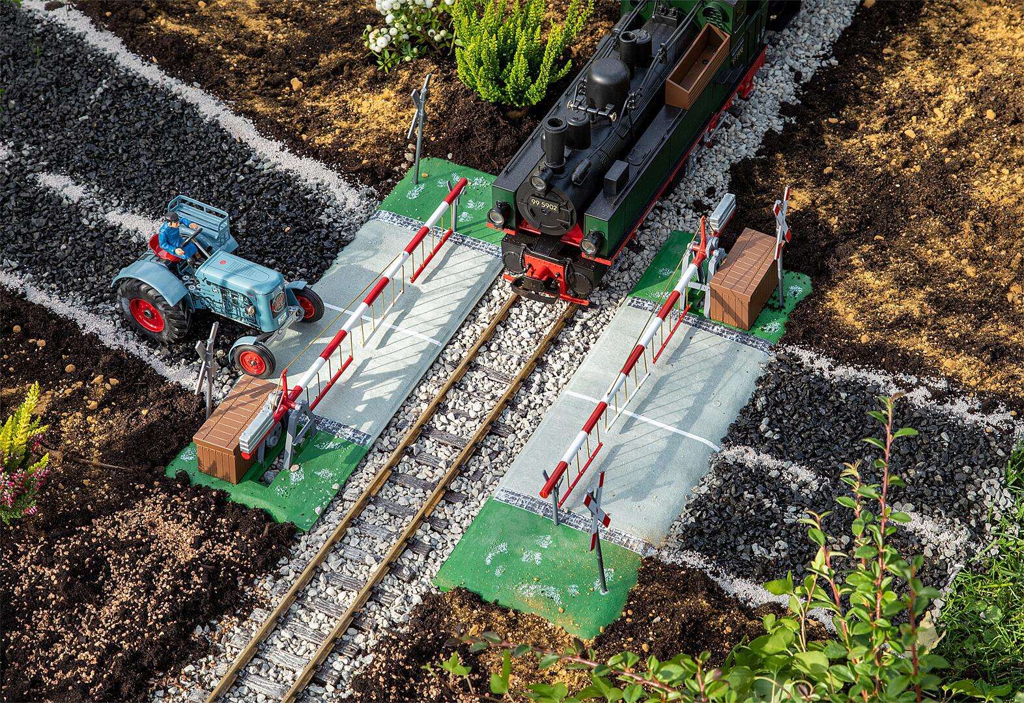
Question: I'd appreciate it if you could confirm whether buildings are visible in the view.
No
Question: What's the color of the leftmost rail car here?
black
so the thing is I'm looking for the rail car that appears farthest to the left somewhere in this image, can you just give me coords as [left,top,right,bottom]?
[486,0,768,312]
